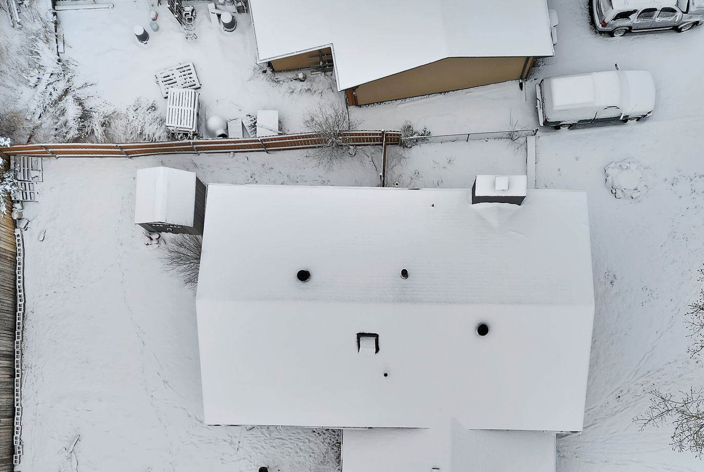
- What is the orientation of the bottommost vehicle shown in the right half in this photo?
horizontally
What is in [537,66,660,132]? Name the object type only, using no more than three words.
vehicle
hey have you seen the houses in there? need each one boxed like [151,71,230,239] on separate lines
[244,0,559,108]
[195,173,595,472]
